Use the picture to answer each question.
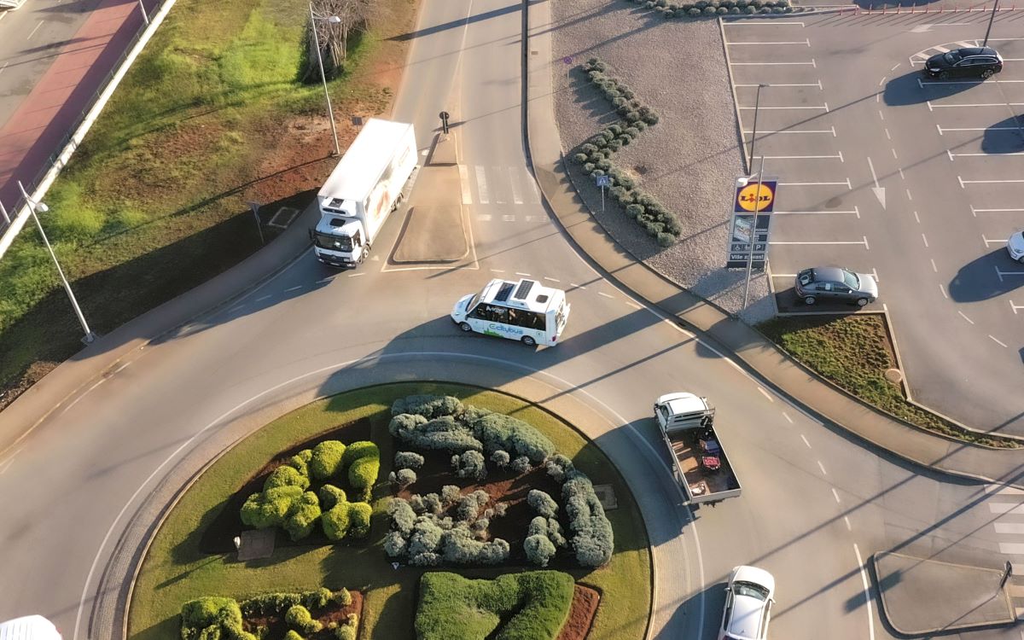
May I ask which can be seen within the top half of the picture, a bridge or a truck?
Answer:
truck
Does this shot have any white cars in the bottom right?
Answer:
Yes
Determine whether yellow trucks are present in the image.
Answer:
No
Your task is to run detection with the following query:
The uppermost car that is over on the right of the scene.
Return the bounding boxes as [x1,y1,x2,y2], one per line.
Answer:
[925,46,1005,79]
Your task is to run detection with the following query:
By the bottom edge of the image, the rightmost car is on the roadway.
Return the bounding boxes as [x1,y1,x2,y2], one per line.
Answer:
[719,570,778,640]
